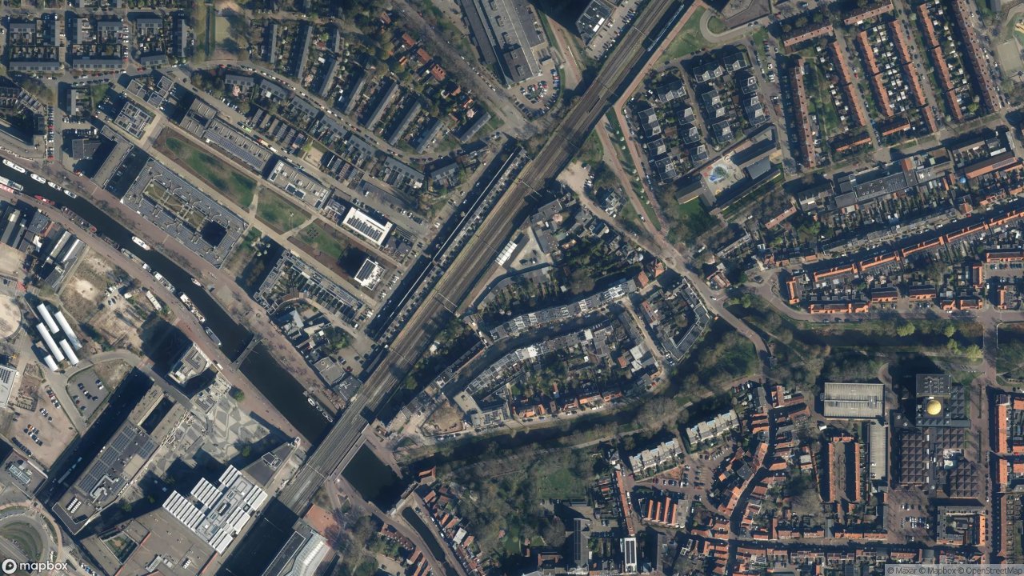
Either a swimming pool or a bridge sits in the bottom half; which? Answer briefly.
bridge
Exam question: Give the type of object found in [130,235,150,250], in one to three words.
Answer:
boat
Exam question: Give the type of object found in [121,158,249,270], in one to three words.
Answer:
building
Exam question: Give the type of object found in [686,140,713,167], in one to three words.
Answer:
house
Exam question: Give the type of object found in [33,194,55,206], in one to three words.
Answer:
vessel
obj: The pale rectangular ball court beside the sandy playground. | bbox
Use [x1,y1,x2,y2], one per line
[997,38,1024,76]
